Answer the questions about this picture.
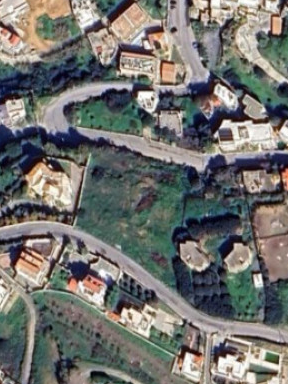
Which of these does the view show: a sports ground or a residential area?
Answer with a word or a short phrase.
residential area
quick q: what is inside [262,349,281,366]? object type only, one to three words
swimming pool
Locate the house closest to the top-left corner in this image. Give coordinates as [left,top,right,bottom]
[0,0,32,25]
